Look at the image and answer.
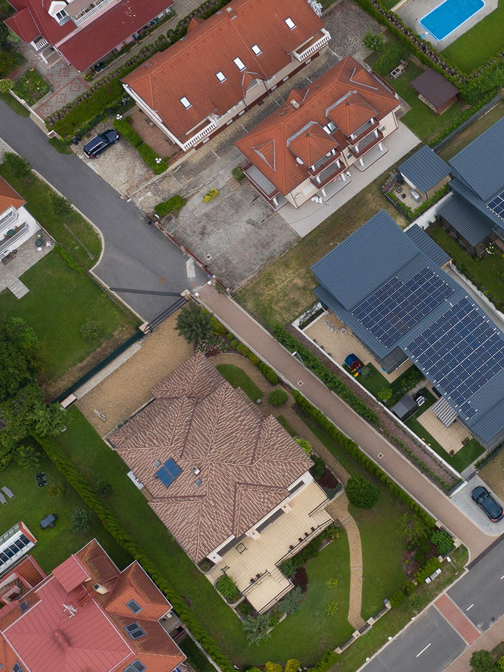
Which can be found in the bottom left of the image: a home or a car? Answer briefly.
home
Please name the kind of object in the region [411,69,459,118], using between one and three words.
building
